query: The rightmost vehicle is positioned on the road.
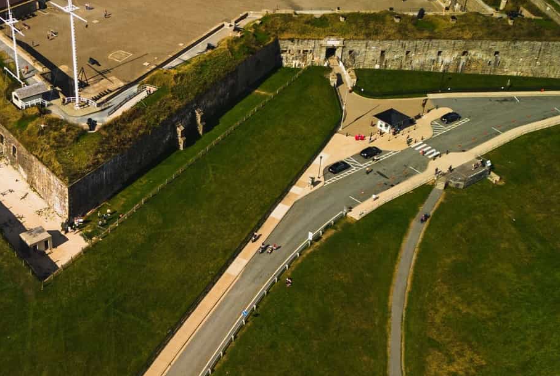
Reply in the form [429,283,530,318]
[442,111,462,123]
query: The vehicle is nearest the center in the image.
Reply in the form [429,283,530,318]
[327,159,348,174]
